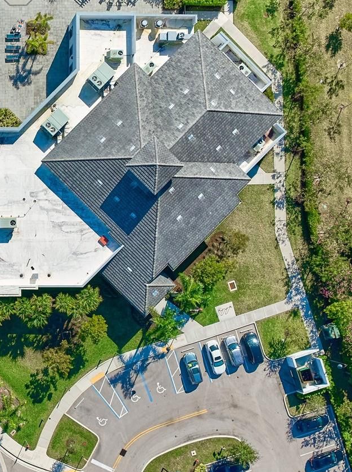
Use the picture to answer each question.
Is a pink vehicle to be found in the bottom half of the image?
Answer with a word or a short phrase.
No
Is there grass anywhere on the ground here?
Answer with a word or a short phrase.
Yes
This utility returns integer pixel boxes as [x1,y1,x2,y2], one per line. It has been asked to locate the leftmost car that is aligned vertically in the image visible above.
[182,350,201,385]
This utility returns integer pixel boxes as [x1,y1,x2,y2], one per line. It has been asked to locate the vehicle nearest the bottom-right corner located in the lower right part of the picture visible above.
[306,449,343,472]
